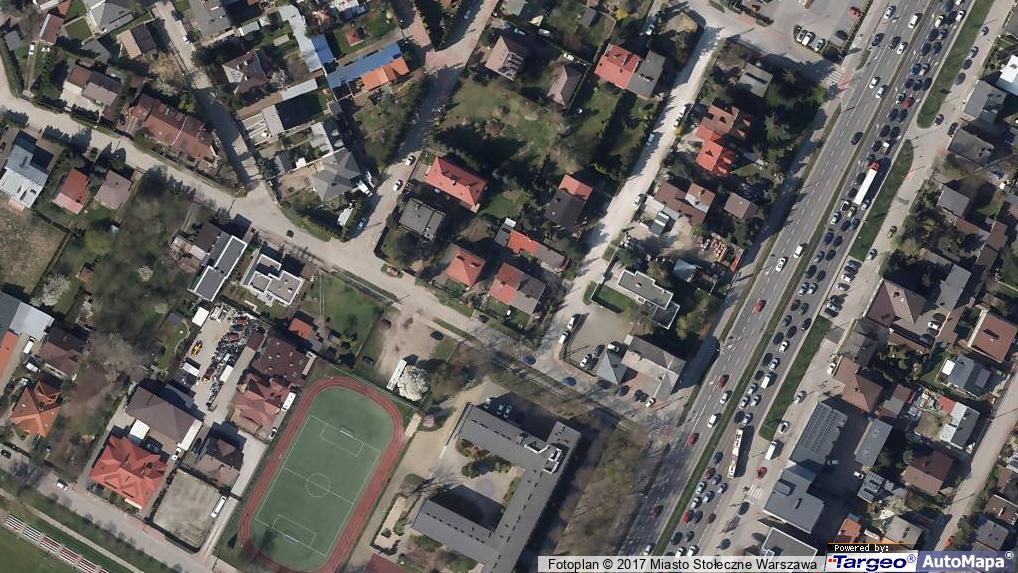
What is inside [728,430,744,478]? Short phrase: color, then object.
white vehicle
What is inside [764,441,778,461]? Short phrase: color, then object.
white vehicle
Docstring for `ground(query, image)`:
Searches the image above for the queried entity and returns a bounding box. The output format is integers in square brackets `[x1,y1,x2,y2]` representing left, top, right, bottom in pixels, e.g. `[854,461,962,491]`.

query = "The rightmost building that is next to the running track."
[413,404,582,573]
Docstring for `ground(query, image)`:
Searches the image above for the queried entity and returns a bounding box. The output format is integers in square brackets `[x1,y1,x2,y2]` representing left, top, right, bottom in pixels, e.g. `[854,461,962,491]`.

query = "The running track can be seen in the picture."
[241,379,400,573]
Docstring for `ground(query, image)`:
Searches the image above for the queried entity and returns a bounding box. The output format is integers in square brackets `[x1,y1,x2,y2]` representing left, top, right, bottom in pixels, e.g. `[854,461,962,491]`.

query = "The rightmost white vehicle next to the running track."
[387,360,406,390]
